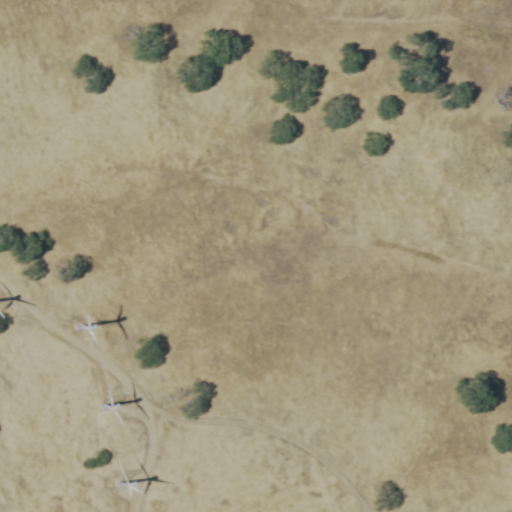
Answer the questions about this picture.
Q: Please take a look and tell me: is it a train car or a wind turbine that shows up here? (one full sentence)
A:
It is a wind turbine that can be seen here.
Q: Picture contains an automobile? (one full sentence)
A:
No, I find no automobile anywhere in the image.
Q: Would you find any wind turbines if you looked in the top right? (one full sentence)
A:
No, no wind turbine appears in the top right.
